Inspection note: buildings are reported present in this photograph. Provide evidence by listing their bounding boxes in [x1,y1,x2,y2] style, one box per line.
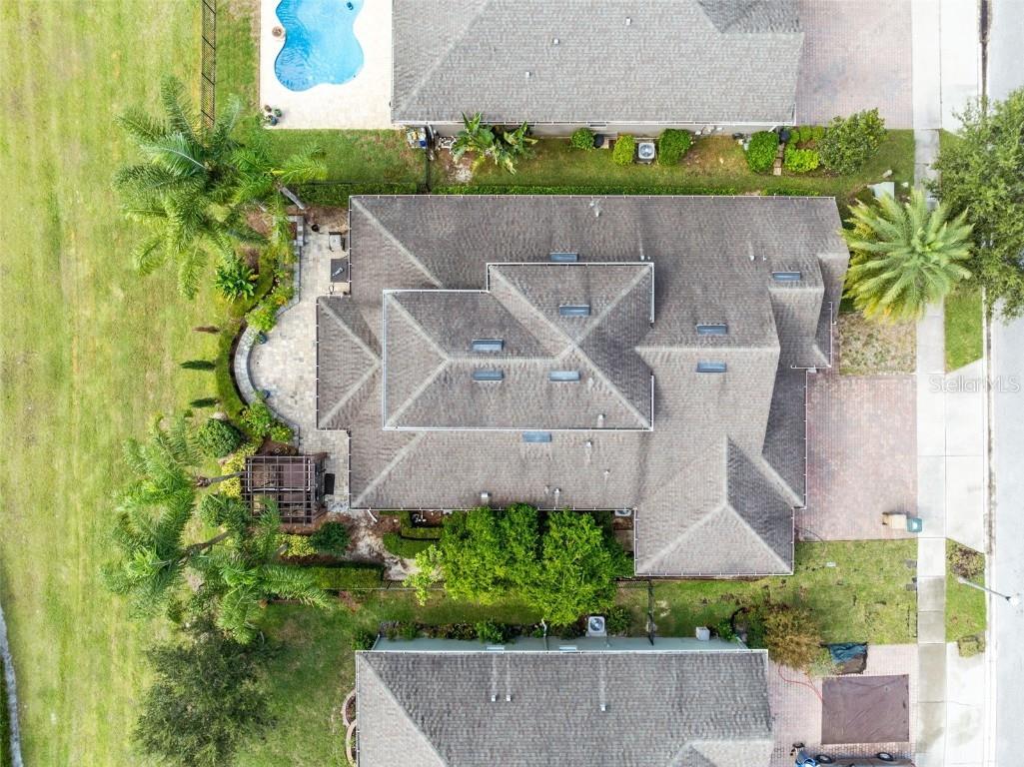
[391,0,804,143]
[316,195,851,577]
[356,619,775,767]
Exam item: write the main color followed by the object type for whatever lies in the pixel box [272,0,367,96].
blue swimming pool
